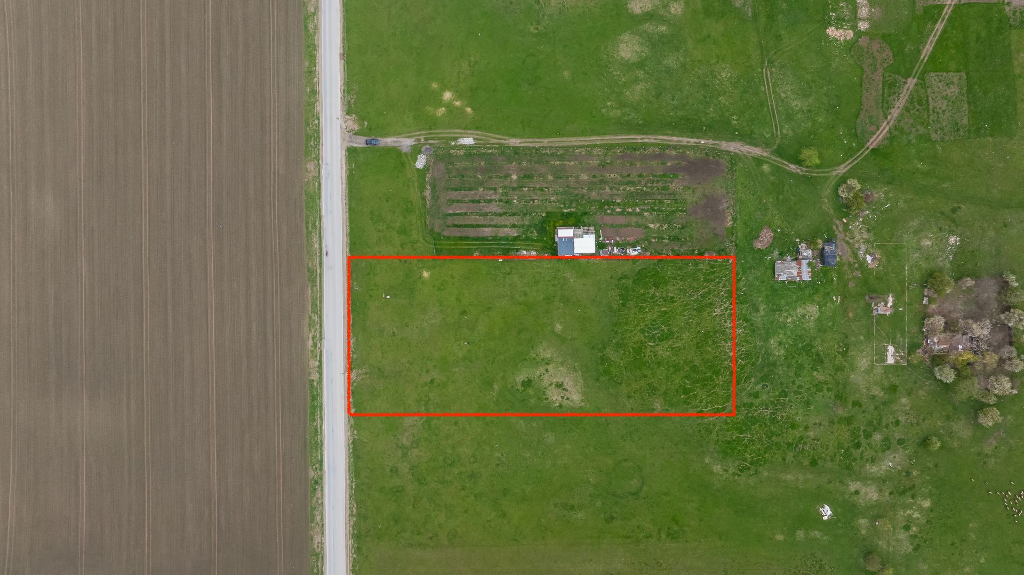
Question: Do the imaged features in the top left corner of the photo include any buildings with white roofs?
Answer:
No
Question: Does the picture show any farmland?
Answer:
Yes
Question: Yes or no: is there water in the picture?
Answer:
No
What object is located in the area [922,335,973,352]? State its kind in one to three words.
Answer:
house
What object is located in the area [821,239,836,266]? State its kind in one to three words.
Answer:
shed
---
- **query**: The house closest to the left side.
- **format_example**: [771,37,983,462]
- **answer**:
[555,226,595,256]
